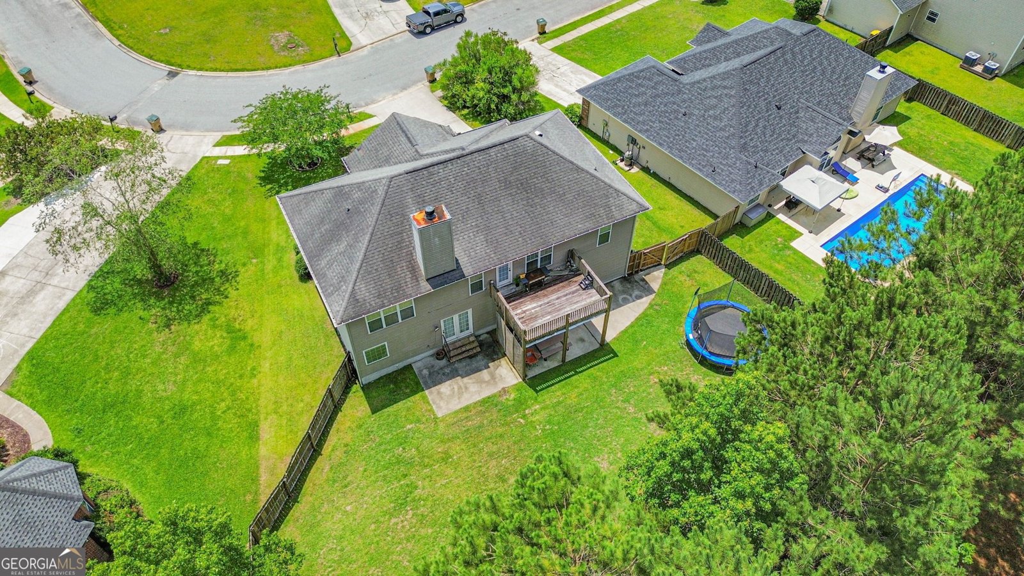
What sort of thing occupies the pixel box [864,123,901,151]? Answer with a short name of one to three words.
umbrella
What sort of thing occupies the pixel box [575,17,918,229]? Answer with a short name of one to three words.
house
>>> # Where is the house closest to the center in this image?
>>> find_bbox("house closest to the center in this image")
[274,110,652,382]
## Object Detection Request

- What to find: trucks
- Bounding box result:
[404,0,469,35]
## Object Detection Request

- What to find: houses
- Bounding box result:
[0,456,107,576]
[274,110,652,382]
[575,17,918,229]
[821,0,1024,72]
